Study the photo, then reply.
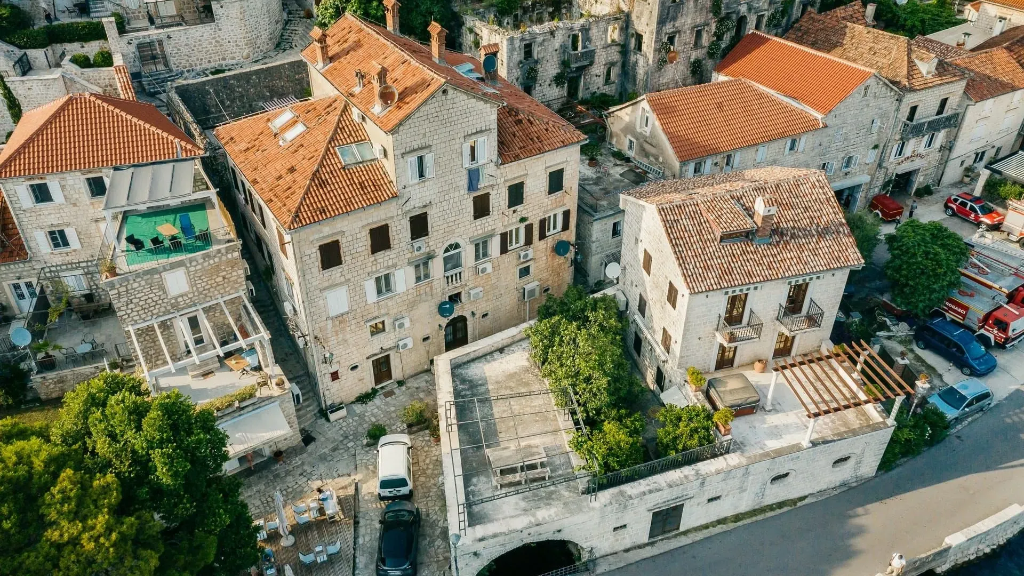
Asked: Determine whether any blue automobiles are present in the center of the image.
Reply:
No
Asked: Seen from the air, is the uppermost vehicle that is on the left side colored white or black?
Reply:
white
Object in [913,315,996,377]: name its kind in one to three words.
car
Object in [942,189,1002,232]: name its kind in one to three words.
car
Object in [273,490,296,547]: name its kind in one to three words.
umbrella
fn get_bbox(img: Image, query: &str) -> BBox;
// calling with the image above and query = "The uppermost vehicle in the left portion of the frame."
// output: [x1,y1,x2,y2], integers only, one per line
[378,429,418,497]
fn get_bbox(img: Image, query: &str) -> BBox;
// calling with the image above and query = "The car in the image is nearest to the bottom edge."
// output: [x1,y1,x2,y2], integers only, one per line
[374,501,423,576]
